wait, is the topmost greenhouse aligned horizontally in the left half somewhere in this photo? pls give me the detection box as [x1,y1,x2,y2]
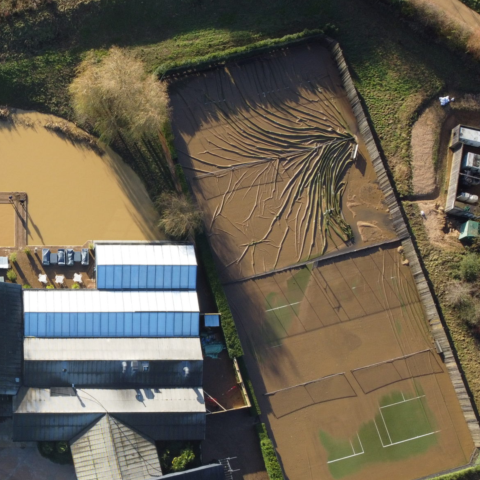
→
[93,242,199,290]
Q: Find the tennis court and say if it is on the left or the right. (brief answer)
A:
right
